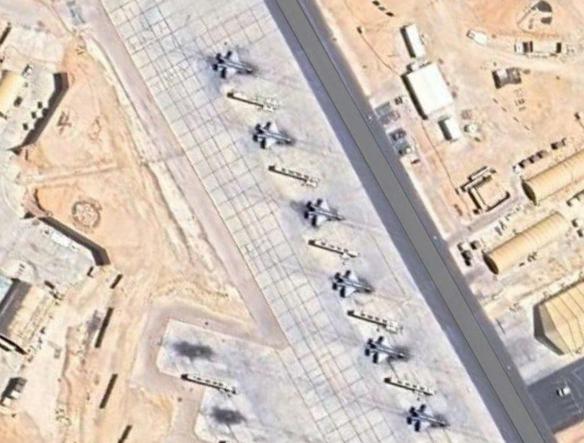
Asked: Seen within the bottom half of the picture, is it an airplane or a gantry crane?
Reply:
airplane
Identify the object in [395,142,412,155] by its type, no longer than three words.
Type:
vehicle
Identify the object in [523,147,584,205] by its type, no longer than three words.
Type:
hangar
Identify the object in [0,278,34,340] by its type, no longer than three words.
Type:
building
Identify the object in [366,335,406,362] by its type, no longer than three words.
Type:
airplane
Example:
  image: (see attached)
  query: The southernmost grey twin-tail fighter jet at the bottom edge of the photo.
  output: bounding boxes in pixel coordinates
[409,405,449,431]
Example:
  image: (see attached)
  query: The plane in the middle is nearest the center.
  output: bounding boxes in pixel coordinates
[306,198,346,225]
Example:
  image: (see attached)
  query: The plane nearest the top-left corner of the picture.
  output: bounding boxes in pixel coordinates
[214,50,254,76]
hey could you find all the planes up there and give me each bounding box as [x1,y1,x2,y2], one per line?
[409,405,449,431]
[306,198,346,225]
[253,120,293,145]
[334,270,375,296]
[214,50,254,76]
[366,335,406,362]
